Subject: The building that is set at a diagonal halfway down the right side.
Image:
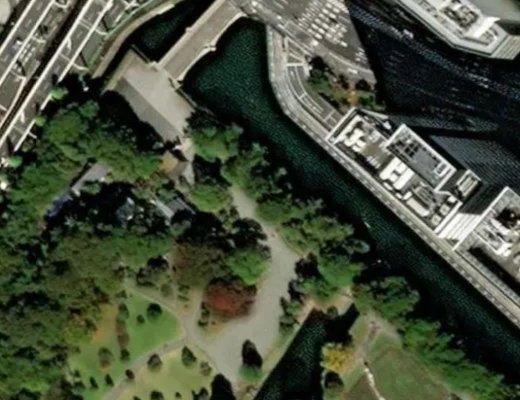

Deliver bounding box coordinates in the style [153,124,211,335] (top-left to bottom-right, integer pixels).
[327,105,495,240]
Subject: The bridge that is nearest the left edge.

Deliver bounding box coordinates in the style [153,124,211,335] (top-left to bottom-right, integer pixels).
[148,0,248,85]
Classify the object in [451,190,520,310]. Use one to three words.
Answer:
building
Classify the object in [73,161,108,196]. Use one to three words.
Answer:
house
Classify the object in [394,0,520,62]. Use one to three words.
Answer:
building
